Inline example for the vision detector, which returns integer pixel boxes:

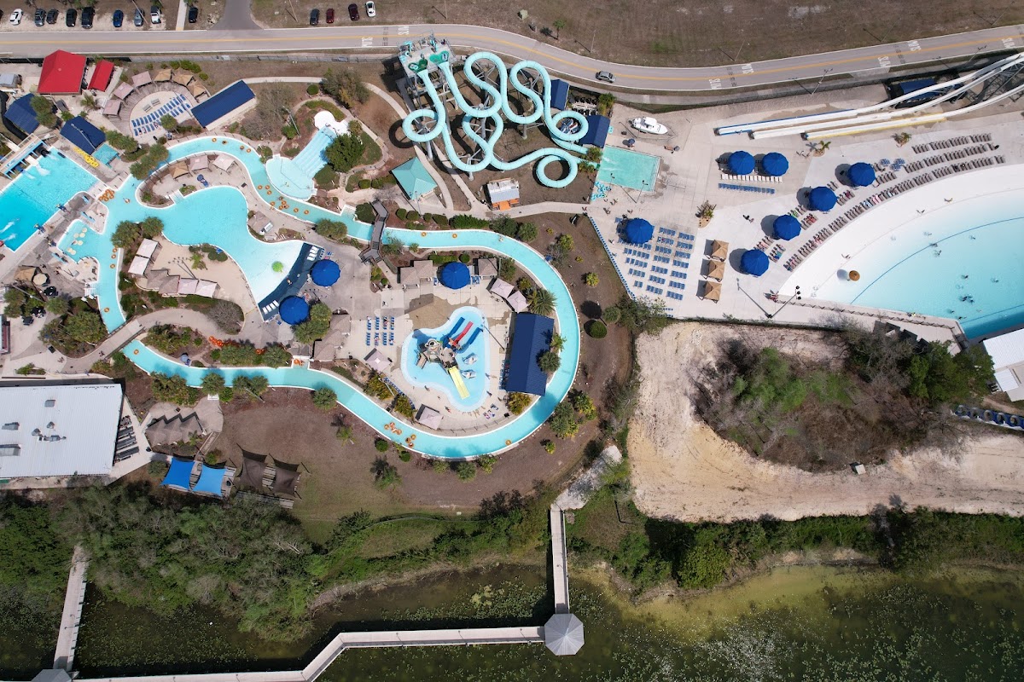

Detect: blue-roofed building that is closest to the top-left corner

[5,93,53,137]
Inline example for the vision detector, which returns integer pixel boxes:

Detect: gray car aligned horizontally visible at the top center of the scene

[595,69,617,81]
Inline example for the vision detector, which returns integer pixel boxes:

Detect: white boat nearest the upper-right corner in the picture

[629,112,669,132]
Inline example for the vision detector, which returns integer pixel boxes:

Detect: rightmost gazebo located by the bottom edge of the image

[545,614,582,655]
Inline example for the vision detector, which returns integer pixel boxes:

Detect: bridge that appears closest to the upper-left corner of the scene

[101,317,139,353]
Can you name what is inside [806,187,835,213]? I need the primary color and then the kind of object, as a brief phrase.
blue umbrella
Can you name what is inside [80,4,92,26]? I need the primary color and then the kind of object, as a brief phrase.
black vehicle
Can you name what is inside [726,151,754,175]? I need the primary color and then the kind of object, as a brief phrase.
blue umbrella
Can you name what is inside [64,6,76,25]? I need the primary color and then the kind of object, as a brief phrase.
black vehicle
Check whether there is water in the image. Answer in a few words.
Yes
